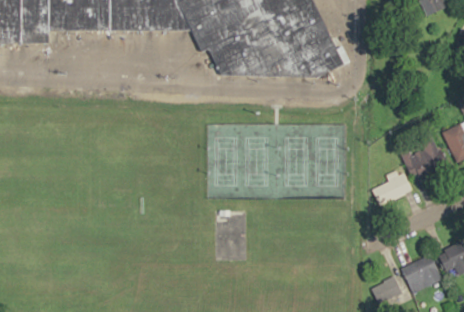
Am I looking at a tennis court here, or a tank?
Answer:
tennis court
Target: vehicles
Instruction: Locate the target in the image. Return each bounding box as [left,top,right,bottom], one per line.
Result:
[396,246,402,256]
[399,255,406,266]
[413,194,420,204]
[408,230,418,238]
[404,252,410,262]
[400,242,407,254]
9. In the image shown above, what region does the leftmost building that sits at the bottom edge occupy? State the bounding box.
[372,280,401,302]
